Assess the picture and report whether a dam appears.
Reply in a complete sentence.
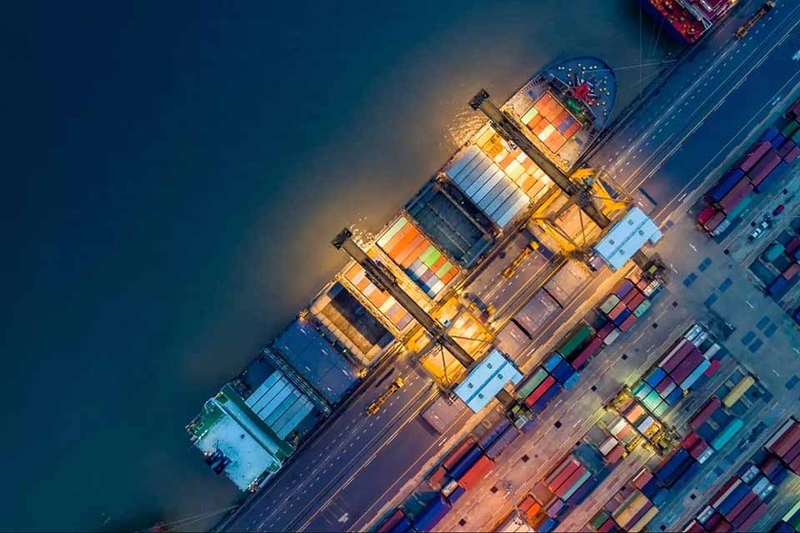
No, I can see no dam in this picture.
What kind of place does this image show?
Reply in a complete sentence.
This looks like a port.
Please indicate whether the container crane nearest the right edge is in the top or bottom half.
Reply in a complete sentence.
You can find the container crane nearest the right edge in the bottom half.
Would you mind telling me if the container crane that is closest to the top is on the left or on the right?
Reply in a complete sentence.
The container crane that is closest to the top appears in the right half of the scene.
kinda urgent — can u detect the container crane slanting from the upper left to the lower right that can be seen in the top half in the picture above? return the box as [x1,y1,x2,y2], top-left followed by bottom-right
[473,87,677,285]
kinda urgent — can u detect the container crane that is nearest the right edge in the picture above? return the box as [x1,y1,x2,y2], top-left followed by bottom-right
[592,377,688,463]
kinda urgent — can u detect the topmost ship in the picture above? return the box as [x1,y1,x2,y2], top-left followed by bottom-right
[631,0,734,45]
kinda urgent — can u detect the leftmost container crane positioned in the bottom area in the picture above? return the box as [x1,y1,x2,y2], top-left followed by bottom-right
[334,231,538,428]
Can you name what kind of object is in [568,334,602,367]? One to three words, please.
shipping container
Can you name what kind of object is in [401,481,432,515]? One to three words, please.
shipping container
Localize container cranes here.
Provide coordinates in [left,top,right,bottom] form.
[592,377,688,463]
[473,87,677,285]
[334,231,538,428]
